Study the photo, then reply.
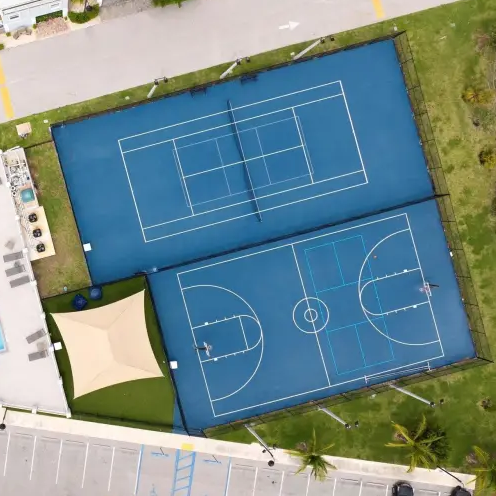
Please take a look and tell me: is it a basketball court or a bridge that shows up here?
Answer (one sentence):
This aerial view contains a basketball court.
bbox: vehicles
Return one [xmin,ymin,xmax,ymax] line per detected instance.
[446,486,472,496]
[390,481,411,496]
